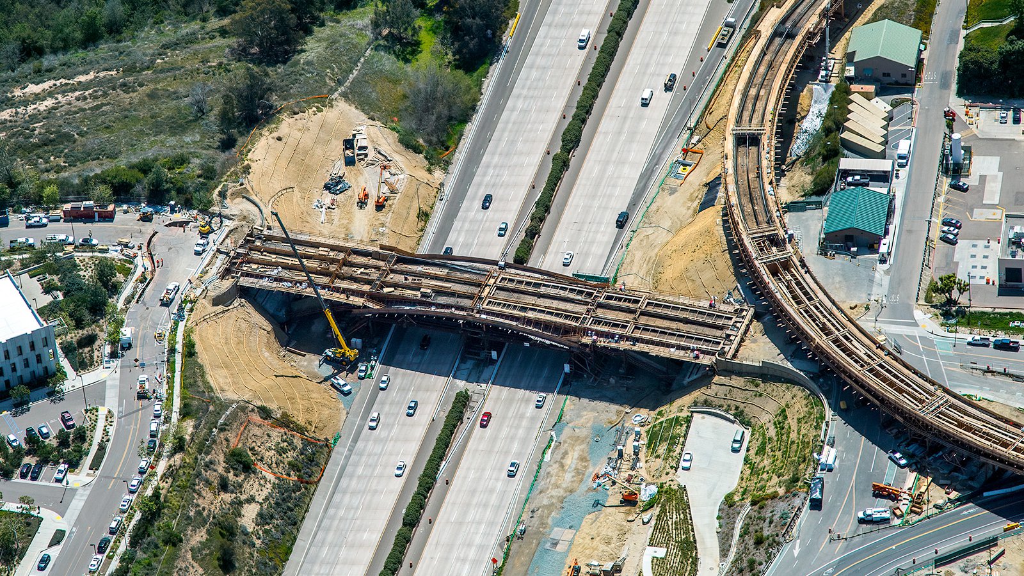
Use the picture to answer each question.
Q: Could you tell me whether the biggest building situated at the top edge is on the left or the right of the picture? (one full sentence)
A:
The biggest building situated at the top edge is on the right side of the image.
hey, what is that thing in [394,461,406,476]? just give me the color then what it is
white vehicle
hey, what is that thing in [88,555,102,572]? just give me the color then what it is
white car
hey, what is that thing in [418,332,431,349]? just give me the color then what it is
black vehicle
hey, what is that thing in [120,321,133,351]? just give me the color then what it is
white vehicle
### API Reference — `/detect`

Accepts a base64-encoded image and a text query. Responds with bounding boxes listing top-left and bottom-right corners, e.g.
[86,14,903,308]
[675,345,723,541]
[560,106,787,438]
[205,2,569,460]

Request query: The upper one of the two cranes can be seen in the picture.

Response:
[811,0,841,84]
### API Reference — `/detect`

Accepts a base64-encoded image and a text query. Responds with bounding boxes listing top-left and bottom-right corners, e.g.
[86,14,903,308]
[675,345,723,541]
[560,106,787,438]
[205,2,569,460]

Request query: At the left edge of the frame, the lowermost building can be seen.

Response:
[0,272,59,394]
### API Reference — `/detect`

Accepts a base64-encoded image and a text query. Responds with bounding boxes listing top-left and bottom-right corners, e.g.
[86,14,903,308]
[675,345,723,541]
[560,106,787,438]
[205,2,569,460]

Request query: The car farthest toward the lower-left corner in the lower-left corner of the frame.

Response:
[37,554,50,570]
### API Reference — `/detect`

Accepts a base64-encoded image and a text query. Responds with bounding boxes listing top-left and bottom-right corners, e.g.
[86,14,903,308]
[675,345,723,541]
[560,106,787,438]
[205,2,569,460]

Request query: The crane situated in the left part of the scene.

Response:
[268,211,364,374]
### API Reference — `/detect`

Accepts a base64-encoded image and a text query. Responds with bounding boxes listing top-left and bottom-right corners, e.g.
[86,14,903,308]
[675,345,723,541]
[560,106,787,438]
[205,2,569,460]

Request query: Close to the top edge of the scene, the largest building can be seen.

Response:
[847,19,922,84]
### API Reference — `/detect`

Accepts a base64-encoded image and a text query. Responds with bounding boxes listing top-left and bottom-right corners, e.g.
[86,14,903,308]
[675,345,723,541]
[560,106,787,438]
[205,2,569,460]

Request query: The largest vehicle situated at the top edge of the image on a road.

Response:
[713,21,731,45]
